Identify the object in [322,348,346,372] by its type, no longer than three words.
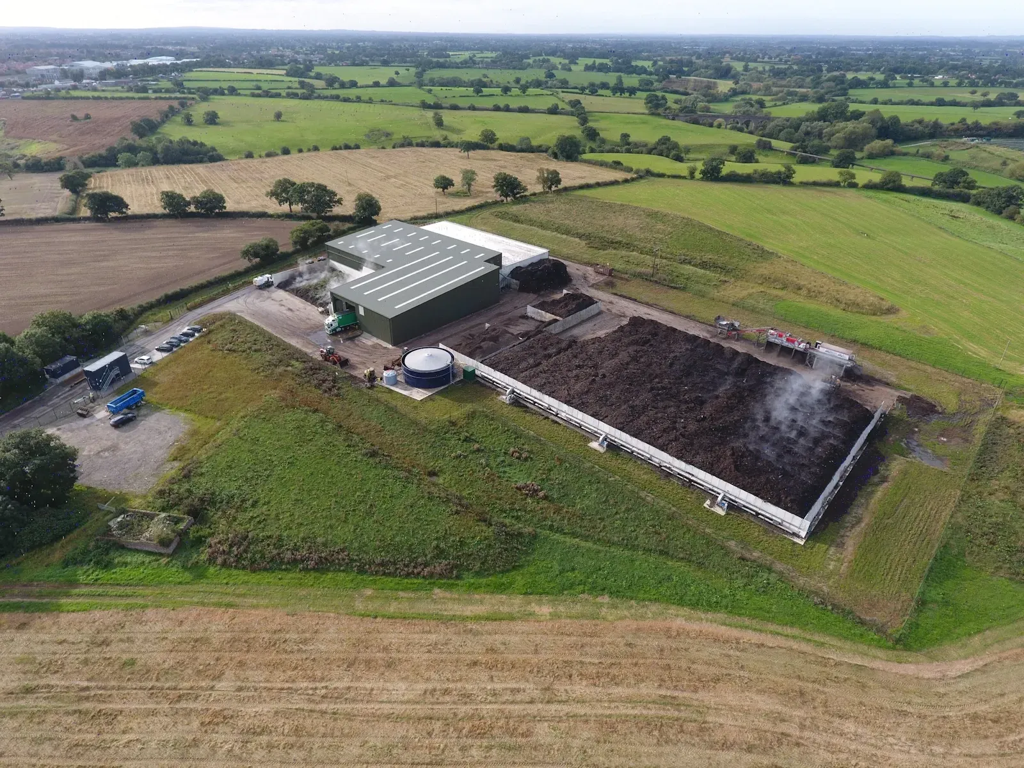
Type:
work vehicle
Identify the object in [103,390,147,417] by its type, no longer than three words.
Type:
trailer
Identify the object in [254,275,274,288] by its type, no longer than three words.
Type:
vehicle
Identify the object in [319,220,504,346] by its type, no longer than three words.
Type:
shed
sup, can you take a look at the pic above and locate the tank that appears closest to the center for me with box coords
[401,347,453,388]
